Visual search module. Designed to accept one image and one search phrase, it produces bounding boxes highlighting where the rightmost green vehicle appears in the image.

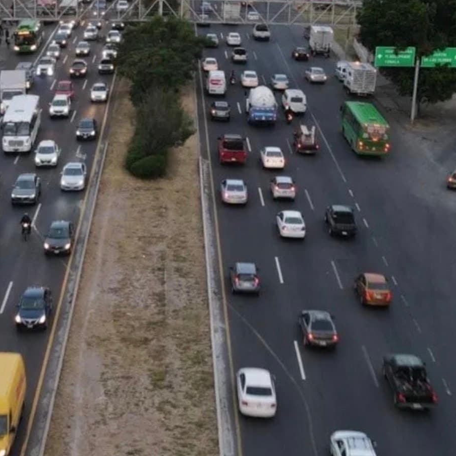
[343,99,390,150]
